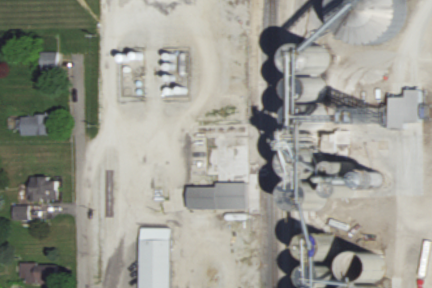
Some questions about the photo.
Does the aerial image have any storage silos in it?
Yes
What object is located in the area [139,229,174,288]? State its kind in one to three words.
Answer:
building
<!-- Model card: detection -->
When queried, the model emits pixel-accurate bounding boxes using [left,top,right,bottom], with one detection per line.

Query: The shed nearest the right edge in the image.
[386,89,426,129]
